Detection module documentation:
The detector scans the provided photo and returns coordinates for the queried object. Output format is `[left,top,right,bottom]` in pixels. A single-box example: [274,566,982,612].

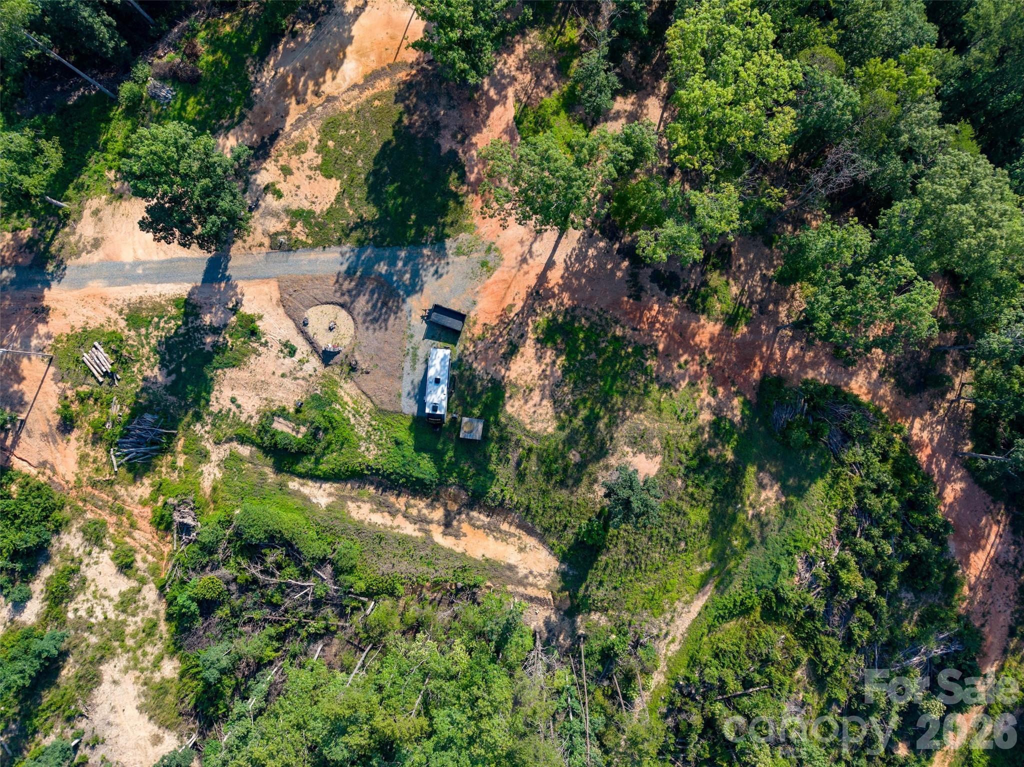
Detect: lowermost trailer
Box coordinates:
[424,344,454,428]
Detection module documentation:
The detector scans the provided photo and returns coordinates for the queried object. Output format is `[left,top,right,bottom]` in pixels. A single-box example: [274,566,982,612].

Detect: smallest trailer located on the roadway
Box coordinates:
[421,303,467,332]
